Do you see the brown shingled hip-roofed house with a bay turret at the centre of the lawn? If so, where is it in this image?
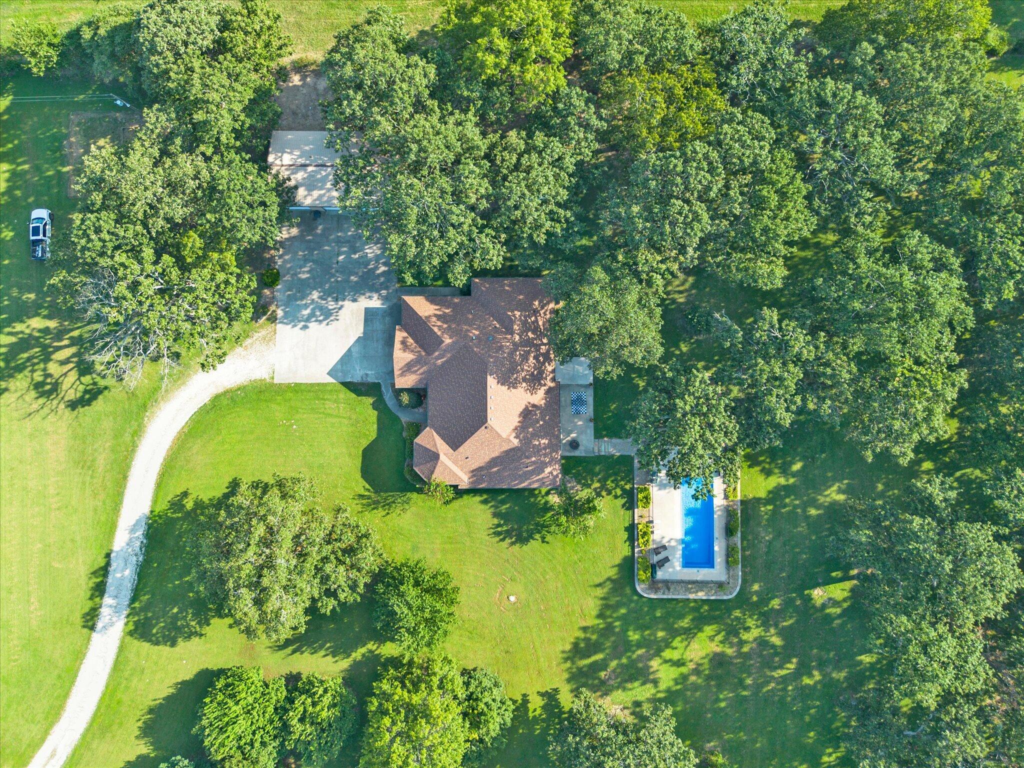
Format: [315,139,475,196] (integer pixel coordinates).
[392,277,561,489]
